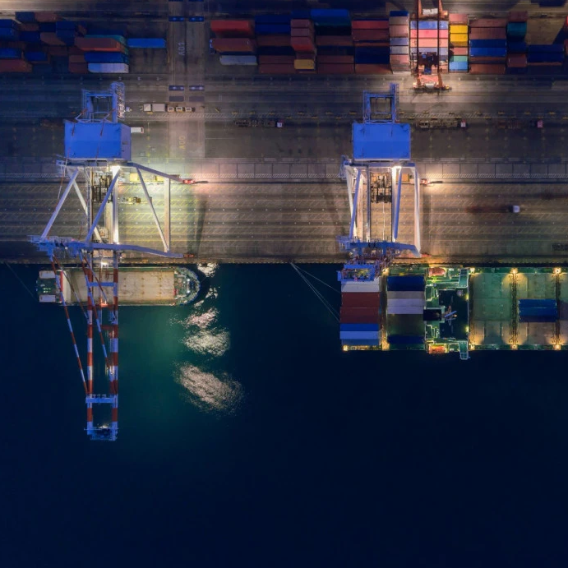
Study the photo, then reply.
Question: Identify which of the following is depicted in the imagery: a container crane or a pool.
container crane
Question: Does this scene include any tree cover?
No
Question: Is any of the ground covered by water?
Yes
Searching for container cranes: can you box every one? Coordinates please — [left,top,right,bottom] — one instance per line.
[330,76,434,291]
[407,0,452,93]
[32,76,195,440]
